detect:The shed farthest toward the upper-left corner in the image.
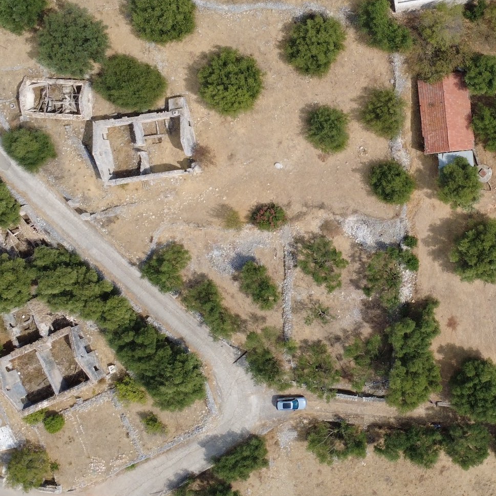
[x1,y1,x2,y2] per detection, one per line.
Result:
[19,77,99,120]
